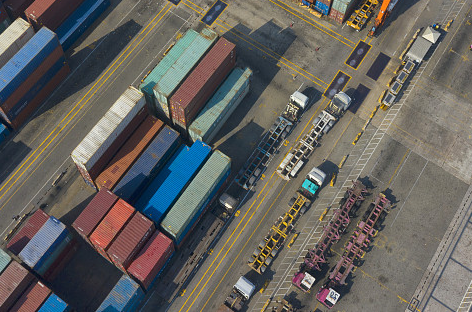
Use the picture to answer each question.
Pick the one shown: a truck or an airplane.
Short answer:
truck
